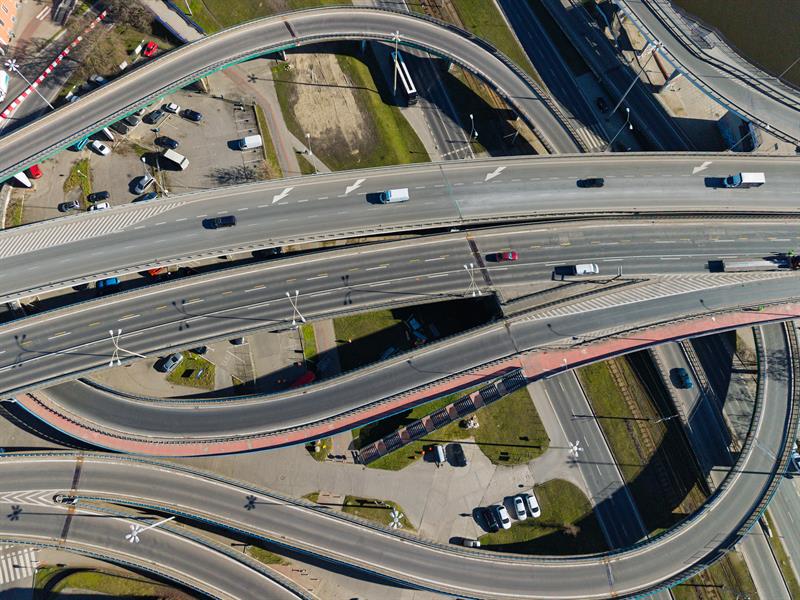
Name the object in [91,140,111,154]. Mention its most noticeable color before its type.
white car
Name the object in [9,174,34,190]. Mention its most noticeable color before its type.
white vehicle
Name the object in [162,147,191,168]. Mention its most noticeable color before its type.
white truck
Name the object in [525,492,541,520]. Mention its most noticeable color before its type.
white car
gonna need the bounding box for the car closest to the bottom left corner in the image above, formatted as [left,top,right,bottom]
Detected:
[162,352,184,373]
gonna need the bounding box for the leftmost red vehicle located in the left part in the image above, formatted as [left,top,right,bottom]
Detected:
[24,165,45,178]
